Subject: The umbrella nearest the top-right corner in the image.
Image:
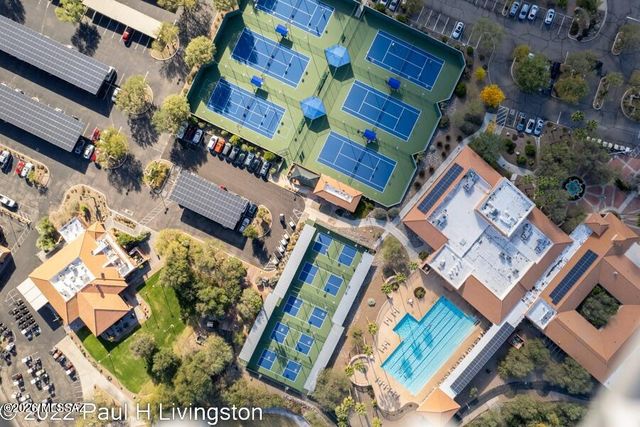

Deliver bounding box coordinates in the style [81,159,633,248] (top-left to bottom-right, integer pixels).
[325,45,351,67]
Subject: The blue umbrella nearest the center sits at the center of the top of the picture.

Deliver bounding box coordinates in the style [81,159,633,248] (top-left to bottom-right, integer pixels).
[301,96,327,118]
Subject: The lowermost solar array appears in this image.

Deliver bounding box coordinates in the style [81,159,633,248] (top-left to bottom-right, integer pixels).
[450,322,514,395]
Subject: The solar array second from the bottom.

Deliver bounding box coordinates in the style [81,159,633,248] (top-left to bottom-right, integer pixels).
[548,249,596,303]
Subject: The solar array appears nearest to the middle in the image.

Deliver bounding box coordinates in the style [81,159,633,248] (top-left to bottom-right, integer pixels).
[418,163,462,211]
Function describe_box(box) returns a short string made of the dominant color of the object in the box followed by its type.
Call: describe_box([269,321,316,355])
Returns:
blue sports court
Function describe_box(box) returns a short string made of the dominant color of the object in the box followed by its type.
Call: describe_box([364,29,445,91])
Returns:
blue tennis court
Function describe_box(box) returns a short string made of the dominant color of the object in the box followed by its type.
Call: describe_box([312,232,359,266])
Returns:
blue sports court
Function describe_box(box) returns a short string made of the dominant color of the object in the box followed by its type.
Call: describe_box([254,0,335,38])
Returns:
blue tennis court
